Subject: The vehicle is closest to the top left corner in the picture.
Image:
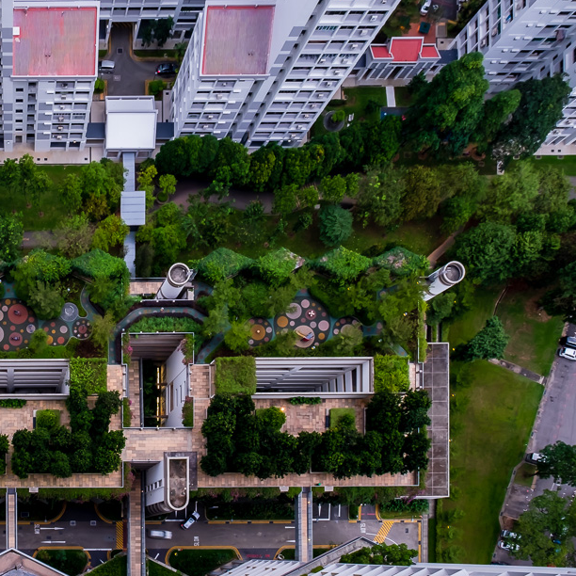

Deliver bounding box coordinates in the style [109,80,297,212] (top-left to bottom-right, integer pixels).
[98,60,116,74]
